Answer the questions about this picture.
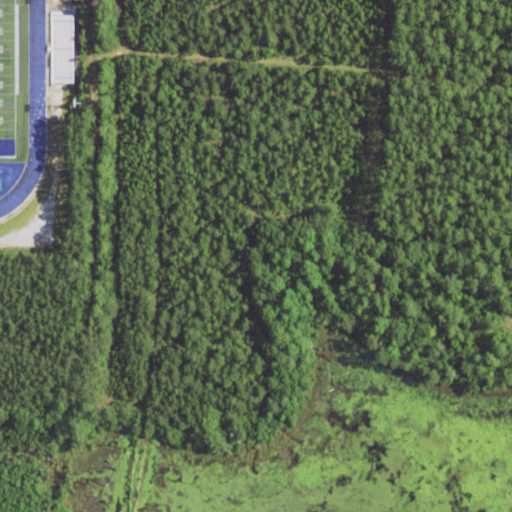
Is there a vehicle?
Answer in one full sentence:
No, there appears to be no vehicle in this shot.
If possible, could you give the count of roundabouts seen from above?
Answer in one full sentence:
There are no roundabouts in this view.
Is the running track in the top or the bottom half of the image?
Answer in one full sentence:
Seen from above, the running track lies in the top half of the view.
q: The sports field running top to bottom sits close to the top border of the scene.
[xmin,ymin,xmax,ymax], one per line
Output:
[0,0,28,196]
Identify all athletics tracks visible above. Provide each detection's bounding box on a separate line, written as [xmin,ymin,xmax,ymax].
[0,0,46,219]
